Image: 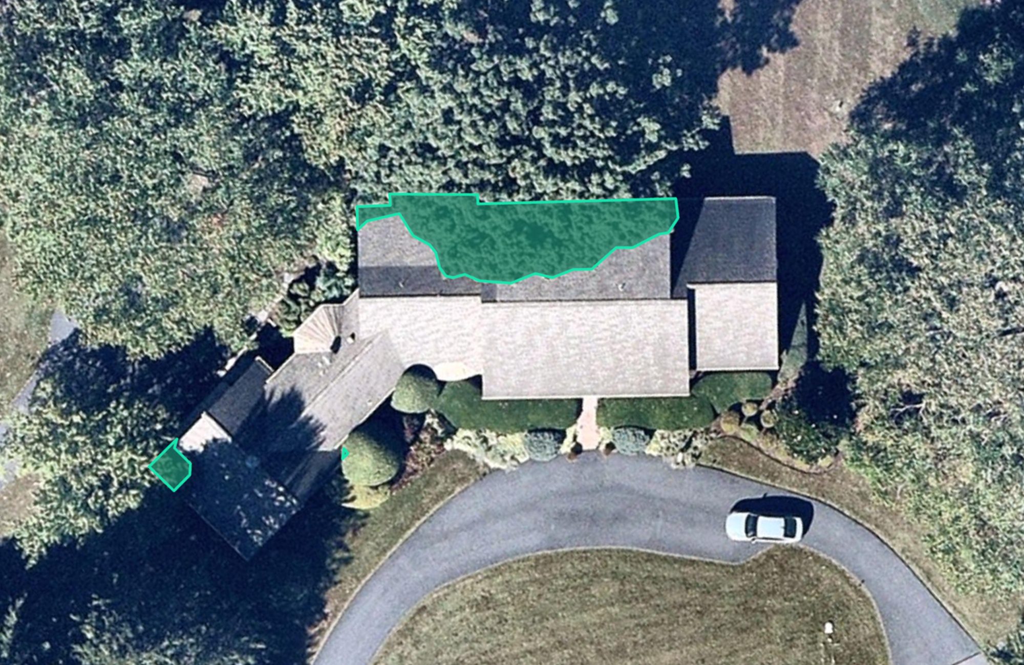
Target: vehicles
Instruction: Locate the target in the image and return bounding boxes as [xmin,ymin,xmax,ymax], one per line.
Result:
[725,510,803,544]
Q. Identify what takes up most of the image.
trees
